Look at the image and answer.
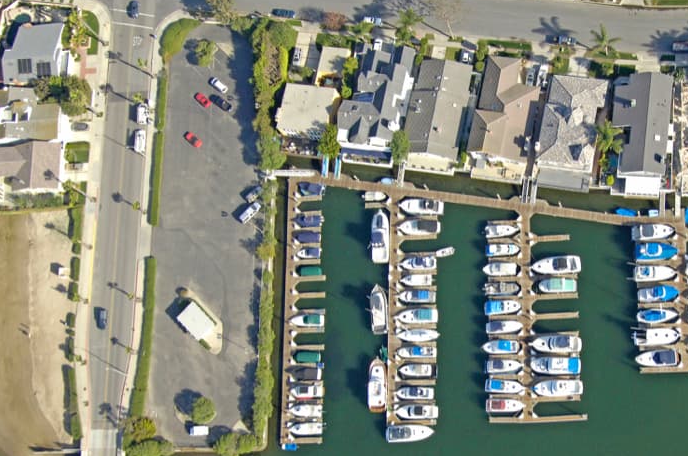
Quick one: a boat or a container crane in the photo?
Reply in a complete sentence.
The image shows a boat.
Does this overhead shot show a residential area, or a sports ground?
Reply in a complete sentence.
The picture captures a residential area.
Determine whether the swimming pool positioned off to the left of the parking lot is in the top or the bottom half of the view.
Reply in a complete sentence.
You can find the swimming pool positioned off to the left of the parking lot in the top half.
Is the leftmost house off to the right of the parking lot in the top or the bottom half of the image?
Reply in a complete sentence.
The leftmost house off to the right of the parking lot sits in the top half of the picture.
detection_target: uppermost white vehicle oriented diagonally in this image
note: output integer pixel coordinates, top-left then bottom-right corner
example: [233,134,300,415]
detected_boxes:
[208,77,226,93]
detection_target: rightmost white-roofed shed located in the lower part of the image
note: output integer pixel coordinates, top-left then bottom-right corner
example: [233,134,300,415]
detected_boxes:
[178,302,215,340]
